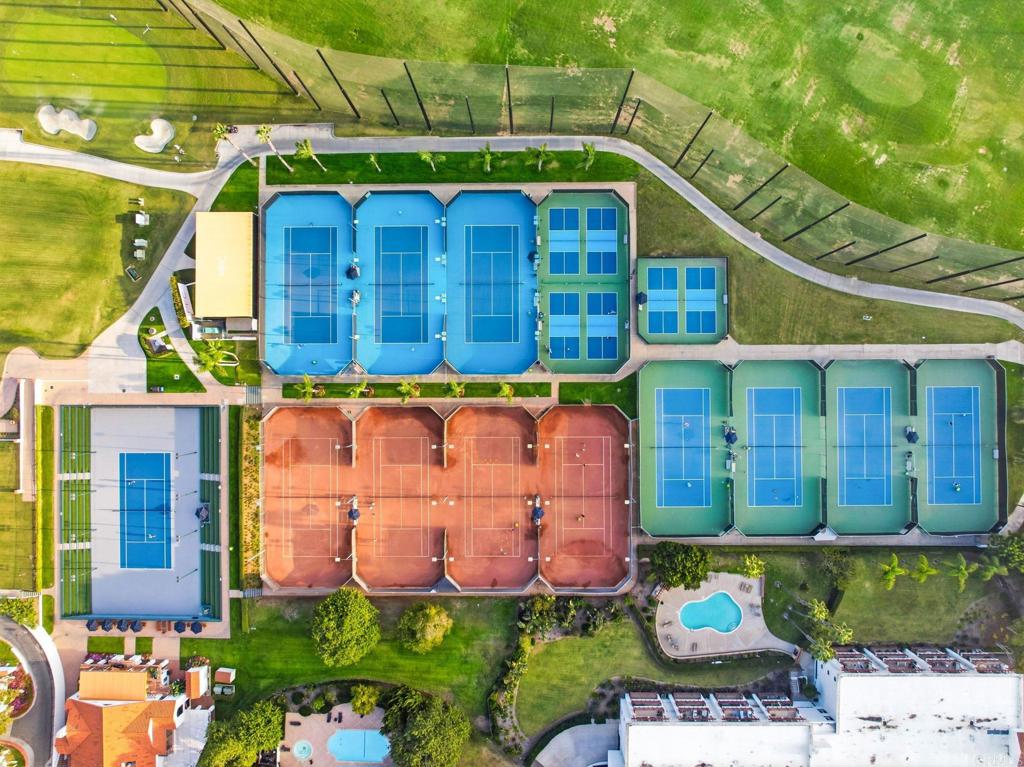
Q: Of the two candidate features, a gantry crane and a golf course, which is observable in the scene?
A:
golf course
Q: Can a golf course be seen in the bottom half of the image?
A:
No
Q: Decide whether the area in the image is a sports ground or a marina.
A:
sports ground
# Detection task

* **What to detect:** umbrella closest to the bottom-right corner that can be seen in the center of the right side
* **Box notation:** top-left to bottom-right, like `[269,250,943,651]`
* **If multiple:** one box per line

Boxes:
[904,430,918,443]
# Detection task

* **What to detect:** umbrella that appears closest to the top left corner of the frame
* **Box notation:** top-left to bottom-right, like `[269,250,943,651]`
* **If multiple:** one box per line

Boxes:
[346,266,360,280]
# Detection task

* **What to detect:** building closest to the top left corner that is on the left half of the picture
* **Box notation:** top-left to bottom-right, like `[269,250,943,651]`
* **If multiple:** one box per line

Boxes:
[195,212,260,317]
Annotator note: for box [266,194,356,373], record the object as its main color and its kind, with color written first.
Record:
blue tennis court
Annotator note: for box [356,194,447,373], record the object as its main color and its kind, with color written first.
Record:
blue tennis court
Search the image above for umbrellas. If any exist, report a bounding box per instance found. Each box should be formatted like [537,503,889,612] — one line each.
[904,430,918,443]
[191,621,204,632]
[348,508,360,520]
[174,621,188,632]
[346,266,360,280]
[635,292,648,304]
[132,621,144,631]
[86,621,100,630]
[531,506,544,519]
[102,621,116,631]
[724,431,737,444]
[195,506,210,520]
[526,252,536,262]
[117,621,131,630]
